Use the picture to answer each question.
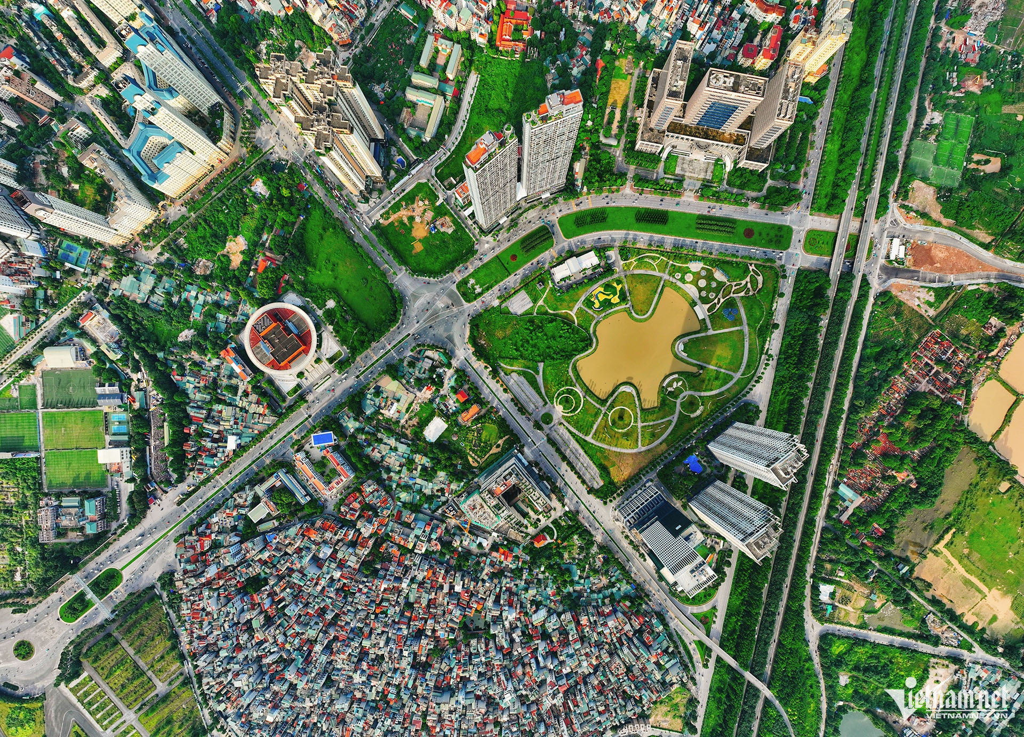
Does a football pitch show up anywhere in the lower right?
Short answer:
No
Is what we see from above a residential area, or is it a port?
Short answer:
residential area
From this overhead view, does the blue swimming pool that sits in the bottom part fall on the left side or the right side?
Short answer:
right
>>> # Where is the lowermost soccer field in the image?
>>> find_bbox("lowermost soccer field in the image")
[45,450,107,489]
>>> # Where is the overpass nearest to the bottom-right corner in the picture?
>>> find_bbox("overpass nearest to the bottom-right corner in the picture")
[611,538,796,737]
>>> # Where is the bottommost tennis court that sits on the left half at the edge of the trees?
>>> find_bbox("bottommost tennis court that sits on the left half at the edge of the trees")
[107,412,129,435]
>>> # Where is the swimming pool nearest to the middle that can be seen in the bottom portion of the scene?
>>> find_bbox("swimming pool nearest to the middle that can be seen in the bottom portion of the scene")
[683,453,703,474]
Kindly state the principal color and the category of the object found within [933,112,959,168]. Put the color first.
green soccer field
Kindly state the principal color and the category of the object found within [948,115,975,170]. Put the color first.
green soccer field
